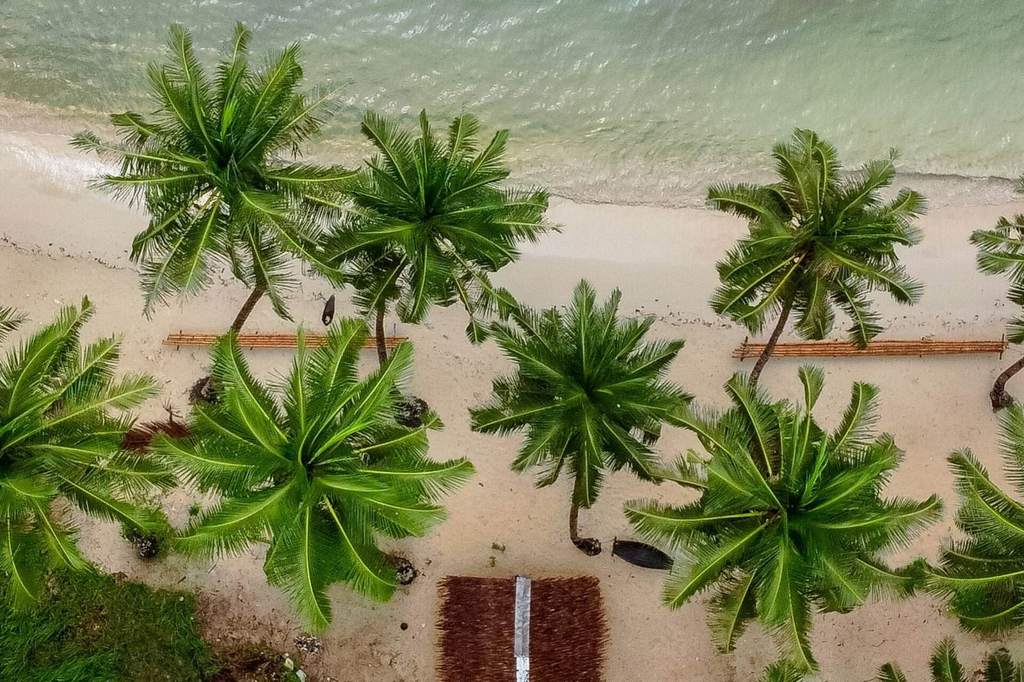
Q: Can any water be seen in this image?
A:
Yes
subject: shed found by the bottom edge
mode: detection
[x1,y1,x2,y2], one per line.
[429,569,613,682]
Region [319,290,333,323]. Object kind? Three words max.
boat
